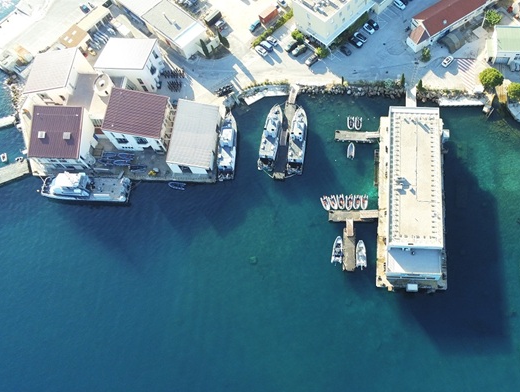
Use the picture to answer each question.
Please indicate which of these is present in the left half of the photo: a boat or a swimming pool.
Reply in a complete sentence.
Visible in the left half of the photo is a boat.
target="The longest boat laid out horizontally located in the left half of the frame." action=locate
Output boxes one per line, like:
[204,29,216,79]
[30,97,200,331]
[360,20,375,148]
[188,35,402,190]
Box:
[40,175,133,207]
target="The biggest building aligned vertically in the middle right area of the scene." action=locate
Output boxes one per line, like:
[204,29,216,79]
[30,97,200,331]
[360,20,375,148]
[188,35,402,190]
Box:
[377,105,448,297]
